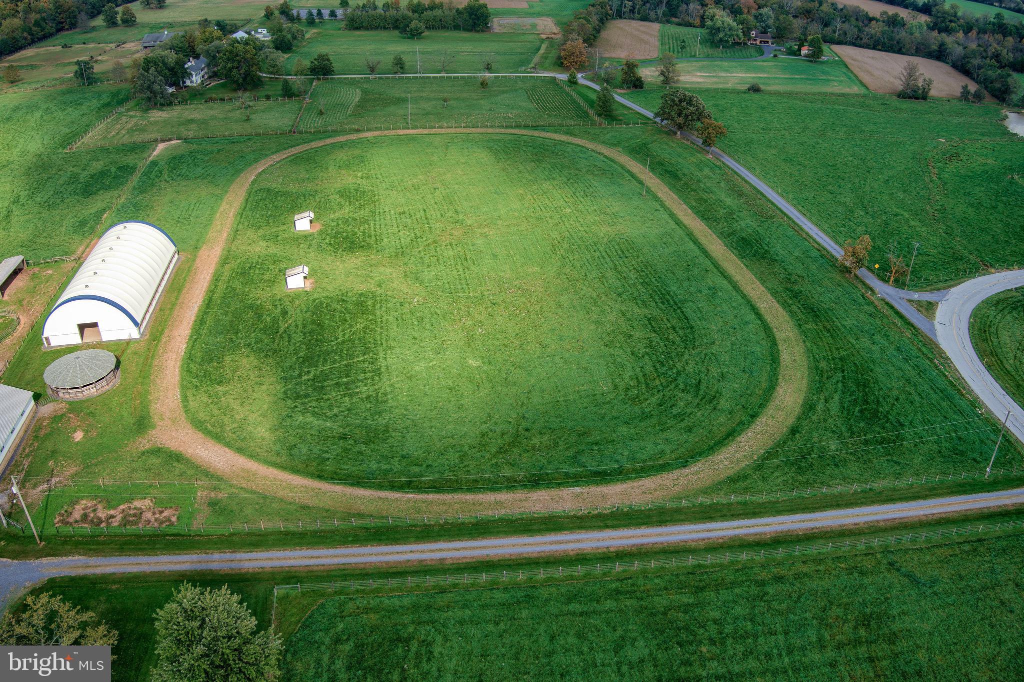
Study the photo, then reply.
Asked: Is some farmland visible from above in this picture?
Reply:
Yes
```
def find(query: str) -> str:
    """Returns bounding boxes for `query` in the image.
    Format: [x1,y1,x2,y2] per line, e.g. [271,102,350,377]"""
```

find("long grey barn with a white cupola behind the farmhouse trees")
[138,25,188,51]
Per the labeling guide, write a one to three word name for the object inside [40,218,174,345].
barn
